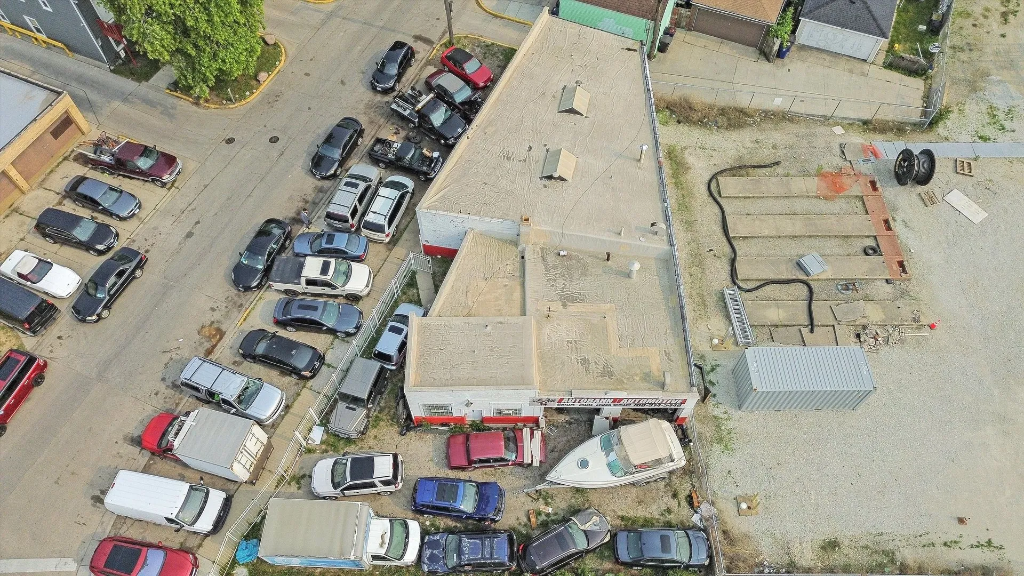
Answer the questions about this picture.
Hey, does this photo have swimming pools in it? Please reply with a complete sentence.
No, no swimming pool is visible in the scene.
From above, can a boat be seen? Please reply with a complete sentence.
Yes, you can see a boat in this photo.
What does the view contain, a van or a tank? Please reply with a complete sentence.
Visible in the photo is a van.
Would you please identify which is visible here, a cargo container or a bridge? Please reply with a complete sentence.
The image shows a cargo container.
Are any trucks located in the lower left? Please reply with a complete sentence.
Yes, a truck can be seen in the lower left.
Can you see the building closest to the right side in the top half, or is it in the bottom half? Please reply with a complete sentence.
Seen from above, the building closest to the right side lies in the top half of the view.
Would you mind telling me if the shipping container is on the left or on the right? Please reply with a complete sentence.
The shipping container appears in the right half of the scene.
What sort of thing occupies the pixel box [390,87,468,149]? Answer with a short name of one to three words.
truck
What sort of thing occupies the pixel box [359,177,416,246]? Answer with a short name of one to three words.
car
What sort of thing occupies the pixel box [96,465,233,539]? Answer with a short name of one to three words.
van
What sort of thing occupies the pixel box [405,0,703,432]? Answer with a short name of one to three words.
building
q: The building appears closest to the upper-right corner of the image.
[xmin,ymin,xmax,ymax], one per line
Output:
[796,0,897,63]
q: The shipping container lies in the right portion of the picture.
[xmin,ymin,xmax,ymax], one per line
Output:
[732,347,876,412]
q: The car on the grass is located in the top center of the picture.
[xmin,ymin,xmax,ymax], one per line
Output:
[440,47,494,92]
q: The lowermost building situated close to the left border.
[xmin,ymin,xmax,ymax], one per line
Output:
[0,68,90,211]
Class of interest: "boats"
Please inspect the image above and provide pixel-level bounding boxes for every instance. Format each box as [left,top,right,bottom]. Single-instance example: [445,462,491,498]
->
[545,421,706,492]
